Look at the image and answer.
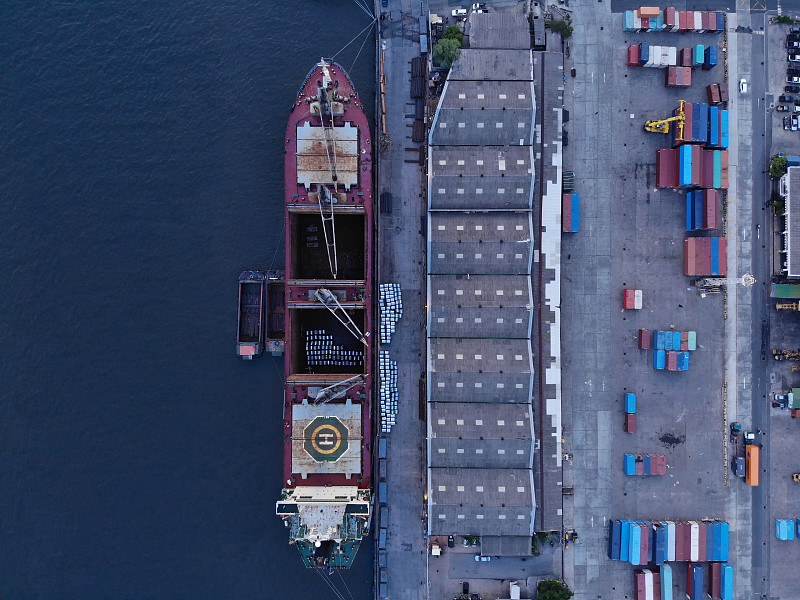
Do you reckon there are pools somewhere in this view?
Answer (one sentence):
No, I can't see a single pool in this photo.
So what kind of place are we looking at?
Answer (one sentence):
The picture captures a port.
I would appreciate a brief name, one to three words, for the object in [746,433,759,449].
vehicle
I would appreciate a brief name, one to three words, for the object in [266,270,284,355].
ship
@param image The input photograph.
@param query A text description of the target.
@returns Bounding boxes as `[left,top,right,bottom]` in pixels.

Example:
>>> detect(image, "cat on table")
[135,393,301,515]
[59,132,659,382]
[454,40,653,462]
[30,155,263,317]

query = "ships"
[237,270,264,358]
[276,56,374,577]
[266,270,284,355]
